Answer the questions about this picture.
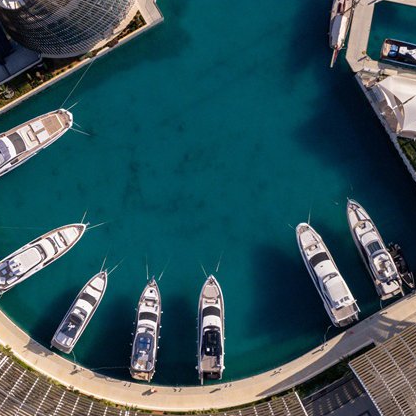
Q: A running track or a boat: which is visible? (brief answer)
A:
boat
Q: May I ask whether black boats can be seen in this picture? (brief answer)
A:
Yes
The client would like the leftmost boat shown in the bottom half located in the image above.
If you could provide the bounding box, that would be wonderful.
[0,224,85,297]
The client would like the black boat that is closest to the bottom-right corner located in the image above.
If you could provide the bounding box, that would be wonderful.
[384,241,415,287]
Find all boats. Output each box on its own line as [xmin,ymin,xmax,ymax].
[96,274,161,383]
[0,224,85,297]
[378,43,416,69]
[0,55,99,180]
[336,189,404,307]
[53,259,118,355]
[196,265,224,385]
[384,241,415,287]
[290,210,357,341]
[329,0,355,66]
